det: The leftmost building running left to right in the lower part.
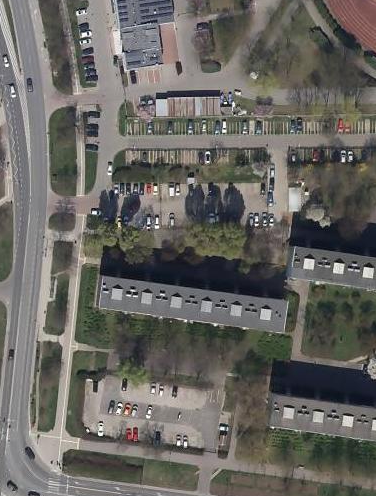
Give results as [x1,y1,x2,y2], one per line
[98,275,292,334]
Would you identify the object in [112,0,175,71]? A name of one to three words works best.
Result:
building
